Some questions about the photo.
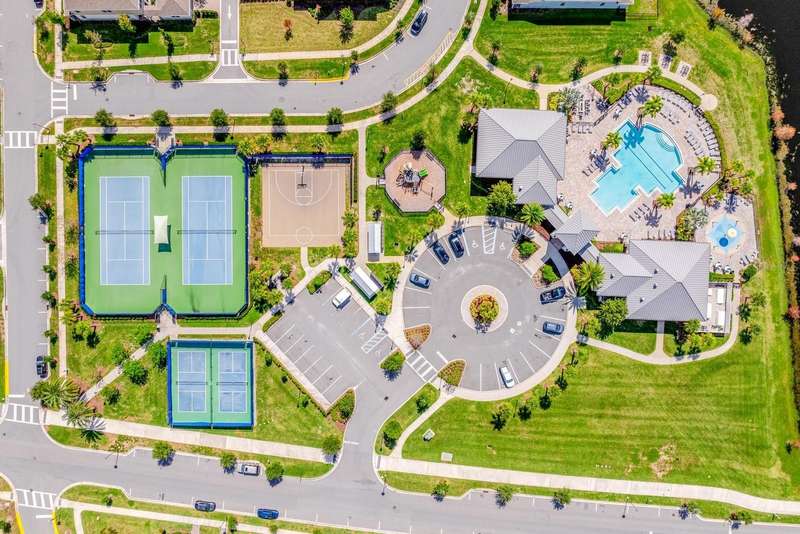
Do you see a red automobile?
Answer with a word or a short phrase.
No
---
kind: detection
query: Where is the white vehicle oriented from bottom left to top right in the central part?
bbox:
[330,287,353,308]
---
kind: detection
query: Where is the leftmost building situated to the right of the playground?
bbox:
[478,110,566,205]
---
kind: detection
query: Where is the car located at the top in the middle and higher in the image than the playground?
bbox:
[411,10,429,34]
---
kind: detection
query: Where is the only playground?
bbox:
[384,150,447,212]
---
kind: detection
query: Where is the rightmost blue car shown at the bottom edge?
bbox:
[256,507,279,520]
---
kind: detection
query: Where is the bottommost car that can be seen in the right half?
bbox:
[498,365,513,387]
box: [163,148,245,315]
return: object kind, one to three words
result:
tennis court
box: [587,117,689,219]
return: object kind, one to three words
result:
swimming pool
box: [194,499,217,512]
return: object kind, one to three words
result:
vehicle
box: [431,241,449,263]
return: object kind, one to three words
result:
car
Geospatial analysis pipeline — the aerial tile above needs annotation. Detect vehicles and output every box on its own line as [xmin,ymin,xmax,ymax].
[541,322,563,333]
[538,287,565,303]
[409,274,431,287]
[330,287,353,308]
[411,10,429,34]
[256,507,279,520]
[36,354,49,379]
[431,241,449,263]
[498,365,513,387]
[448,231,464,256]
[194,499,217,512]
